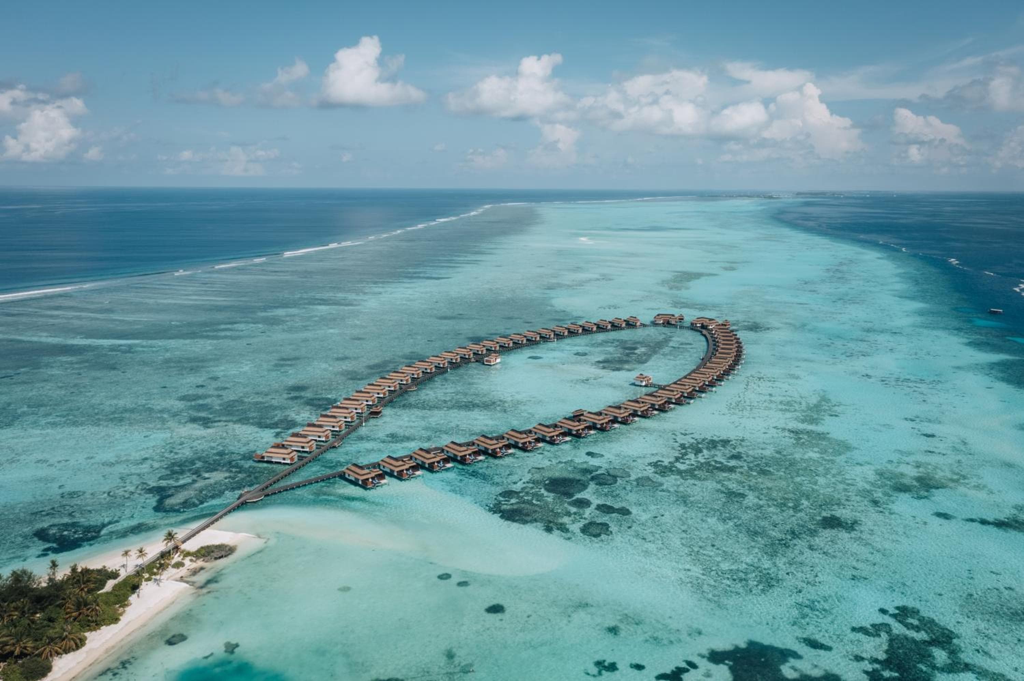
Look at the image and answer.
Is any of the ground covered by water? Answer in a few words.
Yes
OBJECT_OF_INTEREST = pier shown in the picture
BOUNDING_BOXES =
[110,325,714,584]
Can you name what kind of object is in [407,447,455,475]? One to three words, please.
house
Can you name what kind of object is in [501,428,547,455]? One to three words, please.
house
